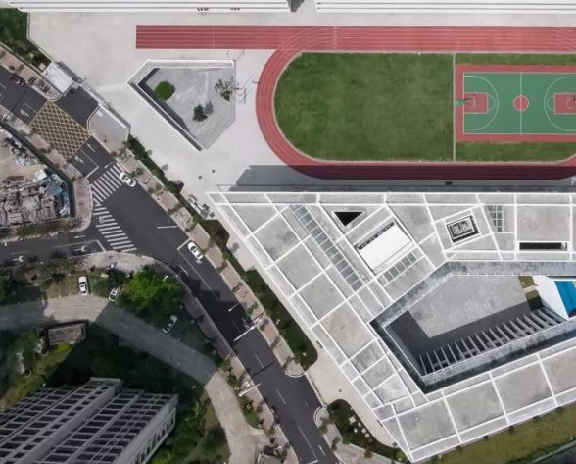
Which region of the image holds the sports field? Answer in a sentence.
The sports field is located in the top right region of the scene.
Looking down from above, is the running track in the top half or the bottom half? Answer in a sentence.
You can find the running track in the top half.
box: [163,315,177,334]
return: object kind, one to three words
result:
vehicle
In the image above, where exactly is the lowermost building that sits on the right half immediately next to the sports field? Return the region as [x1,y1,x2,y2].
[206,191,576,464]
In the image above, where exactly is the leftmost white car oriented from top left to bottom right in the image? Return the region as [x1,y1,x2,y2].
[118,171,135,187]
